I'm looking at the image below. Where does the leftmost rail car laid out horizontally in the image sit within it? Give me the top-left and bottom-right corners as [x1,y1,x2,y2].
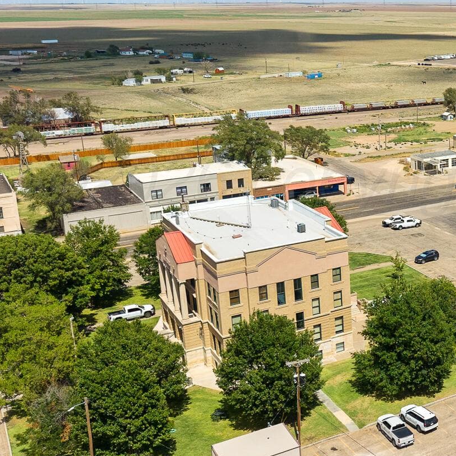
[1,121,96,141]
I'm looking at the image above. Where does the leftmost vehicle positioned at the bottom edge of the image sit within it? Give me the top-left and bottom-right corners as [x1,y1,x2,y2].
[376,415,417,446]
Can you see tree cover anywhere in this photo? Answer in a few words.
Yes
